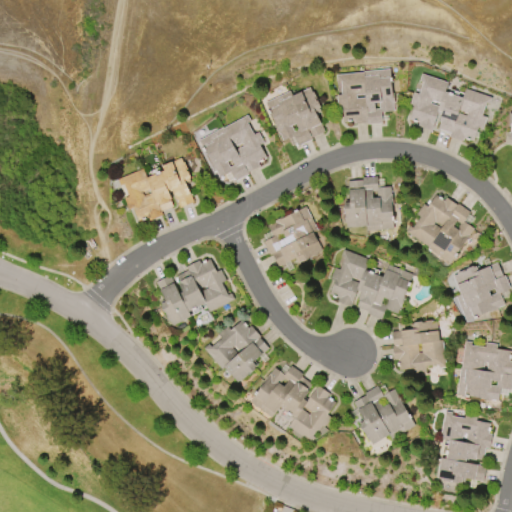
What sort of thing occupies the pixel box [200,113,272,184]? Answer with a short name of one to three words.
house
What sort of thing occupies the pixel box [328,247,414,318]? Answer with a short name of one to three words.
house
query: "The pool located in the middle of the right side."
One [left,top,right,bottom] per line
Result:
[416,284,432,301]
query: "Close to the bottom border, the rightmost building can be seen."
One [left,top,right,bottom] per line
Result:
[438,414,494,490]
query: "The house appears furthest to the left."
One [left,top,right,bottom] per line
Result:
[120,156,196,225]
